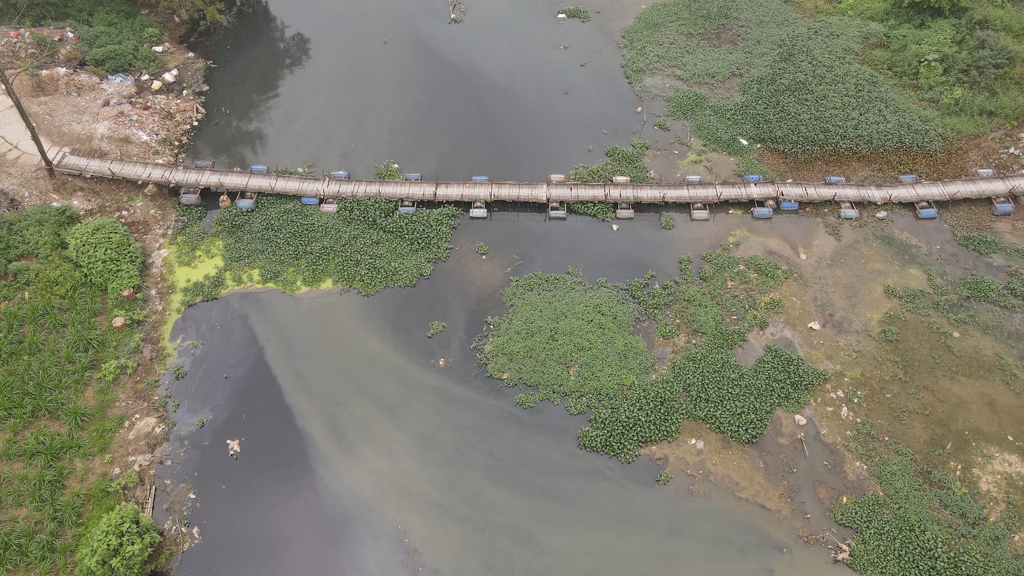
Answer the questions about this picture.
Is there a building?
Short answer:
No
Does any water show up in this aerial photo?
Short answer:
Yes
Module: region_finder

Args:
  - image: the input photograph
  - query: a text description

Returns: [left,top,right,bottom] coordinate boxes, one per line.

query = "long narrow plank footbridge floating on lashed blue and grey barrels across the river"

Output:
[53,147,1024,221]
